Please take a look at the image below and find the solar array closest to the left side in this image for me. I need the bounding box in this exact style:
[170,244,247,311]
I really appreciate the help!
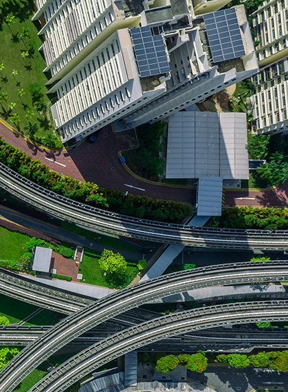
[130,26,170,77]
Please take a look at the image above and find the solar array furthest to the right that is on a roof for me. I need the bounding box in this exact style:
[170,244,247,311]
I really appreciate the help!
[201,9,245,63]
